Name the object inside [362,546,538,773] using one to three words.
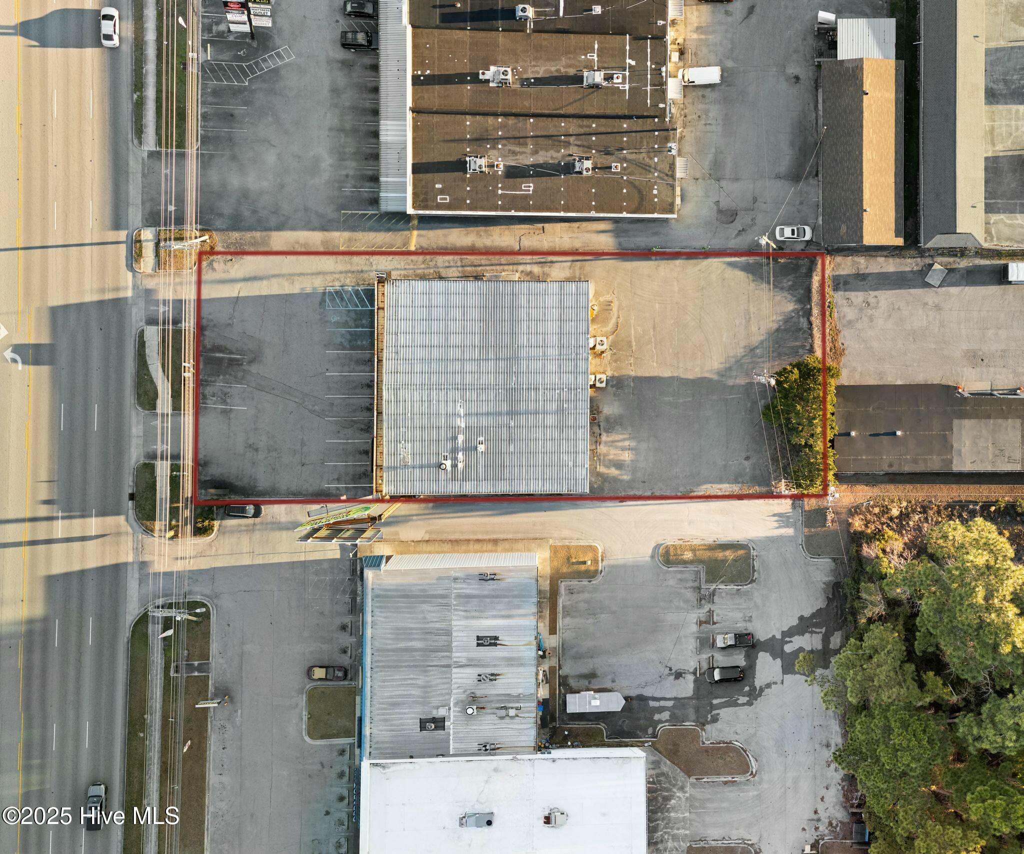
building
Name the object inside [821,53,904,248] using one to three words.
building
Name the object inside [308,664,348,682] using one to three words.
car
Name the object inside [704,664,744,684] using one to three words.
vehicle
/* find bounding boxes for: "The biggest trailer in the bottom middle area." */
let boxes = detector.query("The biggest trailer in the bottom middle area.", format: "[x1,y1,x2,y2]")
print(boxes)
[566,686,626,712]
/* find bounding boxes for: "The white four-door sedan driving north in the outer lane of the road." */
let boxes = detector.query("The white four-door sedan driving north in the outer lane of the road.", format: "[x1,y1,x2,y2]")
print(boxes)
[101,9,121,50]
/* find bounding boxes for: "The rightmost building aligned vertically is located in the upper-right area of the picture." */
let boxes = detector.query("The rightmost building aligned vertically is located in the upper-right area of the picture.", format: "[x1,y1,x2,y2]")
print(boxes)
[902,0,985,250]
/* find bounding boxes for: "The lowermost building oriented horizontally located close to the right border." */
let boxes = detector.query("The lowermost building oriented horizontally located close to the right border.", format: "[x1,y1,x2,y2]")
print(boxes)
[822,384,1024,472]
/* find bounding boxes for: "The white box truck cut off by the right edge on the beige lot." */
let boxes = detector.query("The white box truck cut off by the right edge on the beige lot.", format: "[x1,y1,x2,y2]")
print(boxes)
[987,262,1024,285]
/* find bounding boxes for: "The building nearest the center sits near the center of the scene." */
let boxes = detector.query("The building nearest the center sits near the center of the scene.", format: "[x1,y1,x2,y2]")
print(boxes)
[372,272,591,495]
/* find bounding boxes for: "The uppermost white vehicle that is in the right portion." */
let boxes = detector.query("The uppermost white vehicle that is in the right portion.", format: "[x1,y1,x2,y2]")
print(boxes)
[678,64,724,88]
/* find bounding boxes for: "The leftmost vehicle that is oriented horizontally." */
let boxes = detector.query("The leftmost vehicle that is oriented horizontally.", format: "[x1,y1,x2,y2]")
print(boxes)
[225,502,264,520]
